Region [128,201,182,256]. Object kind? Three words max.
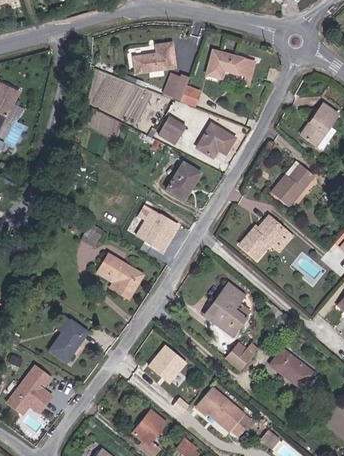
house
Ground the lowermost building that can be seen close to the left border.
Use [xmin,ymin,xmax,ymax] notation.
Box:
[6,364,55,414]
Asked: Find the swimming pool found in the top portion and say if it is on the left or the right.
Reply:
left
